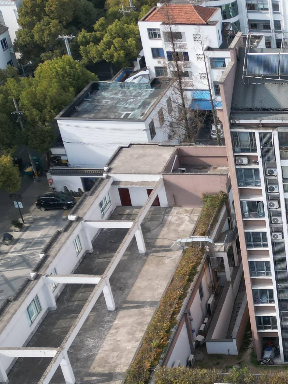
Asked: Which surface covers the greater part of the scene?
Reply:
buildings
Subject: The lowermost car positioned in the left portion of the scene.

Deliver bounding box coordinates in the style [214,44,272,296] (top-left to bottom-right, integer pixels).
[30,193,74,212]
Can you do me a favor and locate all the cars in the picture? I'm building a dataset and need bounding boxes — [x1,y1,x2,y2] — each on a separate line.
[210,125,223,135]
[30,193,74,212]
